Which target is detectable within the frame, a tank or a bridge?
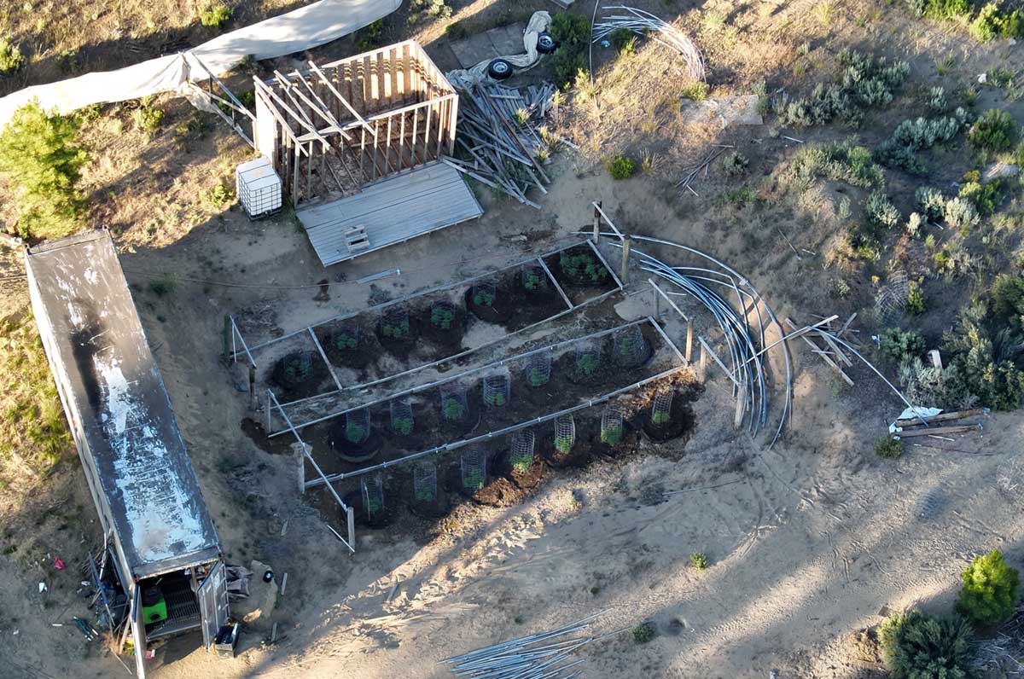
tank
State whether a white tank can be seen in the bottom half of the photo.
No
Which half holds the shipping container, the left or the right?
left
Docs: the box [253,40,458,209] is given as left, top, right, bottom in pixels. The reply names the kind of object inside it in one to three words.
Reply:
shed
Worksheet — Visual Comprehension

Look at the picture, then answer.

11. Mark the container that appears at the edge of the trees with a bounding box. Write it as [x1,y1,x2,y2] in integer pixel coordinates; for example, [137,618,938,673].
[24,226,229,679]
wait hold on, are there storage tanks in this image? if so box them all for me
[235,158,283,221]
